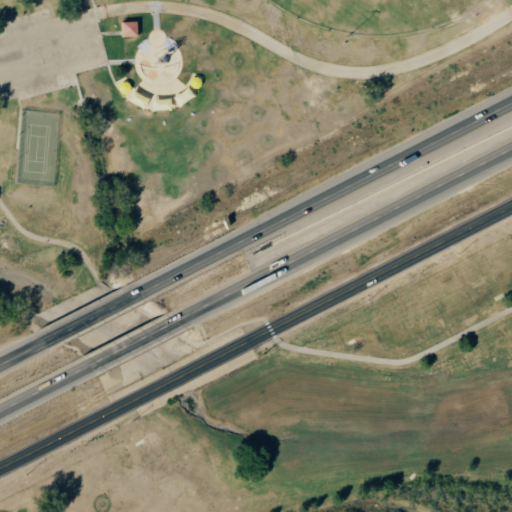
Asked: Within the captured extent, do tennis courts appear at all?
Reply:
Yes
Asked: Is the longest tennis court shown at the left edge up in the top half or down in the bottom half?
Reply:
top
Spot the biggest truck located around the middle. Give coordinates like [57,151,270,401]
[241,270,286,296]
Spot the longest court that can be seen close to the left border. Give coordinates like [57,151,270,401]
[17,110,60,186]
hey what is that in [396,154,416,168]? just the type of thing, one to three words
vehicle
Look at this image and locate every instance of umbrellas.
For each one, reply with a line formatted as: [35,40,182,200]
[120,82,132,93]
[191,78,202,89]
